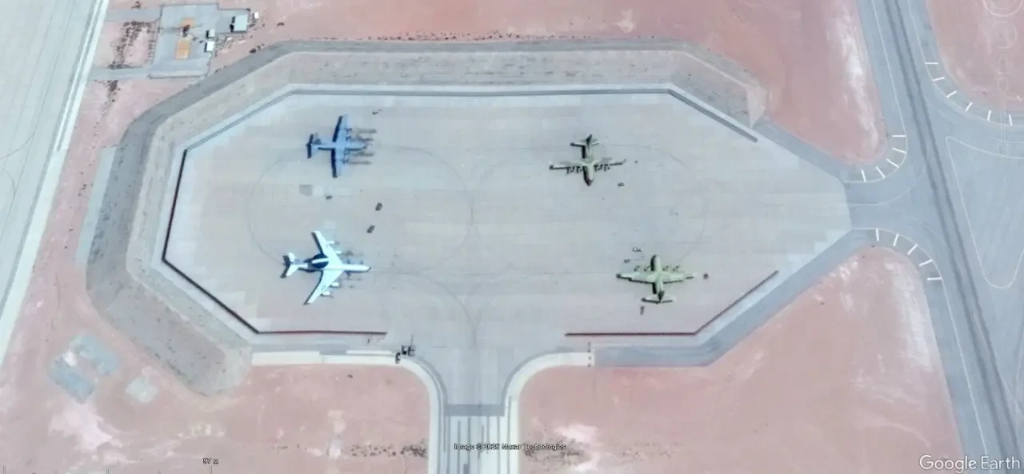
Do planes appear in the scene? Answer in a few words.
Yes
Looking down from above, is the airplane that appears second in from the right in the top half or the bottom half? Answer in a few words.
top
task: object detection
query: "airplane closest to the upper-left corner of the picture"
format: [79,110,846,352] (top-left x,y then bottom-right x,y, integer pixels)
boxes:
[307,116,365,178]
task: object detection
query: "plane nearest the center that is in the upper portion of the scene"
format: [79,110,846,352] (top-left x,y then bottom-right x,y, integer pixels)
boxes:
[551,134,626,186]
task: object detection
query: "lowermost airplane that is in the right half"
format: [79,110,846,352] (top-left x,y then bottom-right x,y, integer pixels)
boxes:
[621,255,696,304]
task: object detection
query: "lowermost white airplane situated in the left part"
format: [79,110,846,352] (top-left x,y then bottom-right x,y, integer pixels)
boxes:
[286,231,370,303]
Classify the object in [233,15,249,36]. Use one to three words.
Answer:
building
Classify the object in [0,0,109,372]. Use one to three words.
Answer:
runway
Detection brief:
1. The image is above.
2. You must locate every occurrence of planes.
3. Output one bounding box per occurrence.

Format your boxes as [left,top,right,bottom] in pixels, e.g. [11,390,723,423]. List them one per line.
[551,134,626,186]
[286,231,370,303]
[621,255,696,304]
[307,116,365,178]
